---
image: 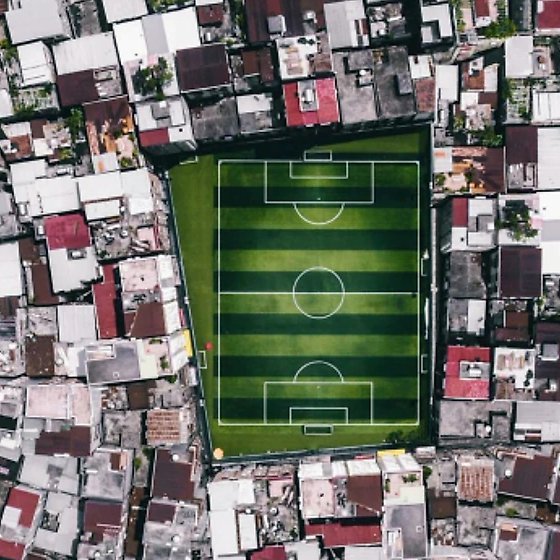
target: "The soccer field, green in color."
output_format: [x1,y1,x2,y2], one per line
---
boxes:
[169,125,433,463]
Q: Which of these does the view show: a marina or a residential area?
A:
residential area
